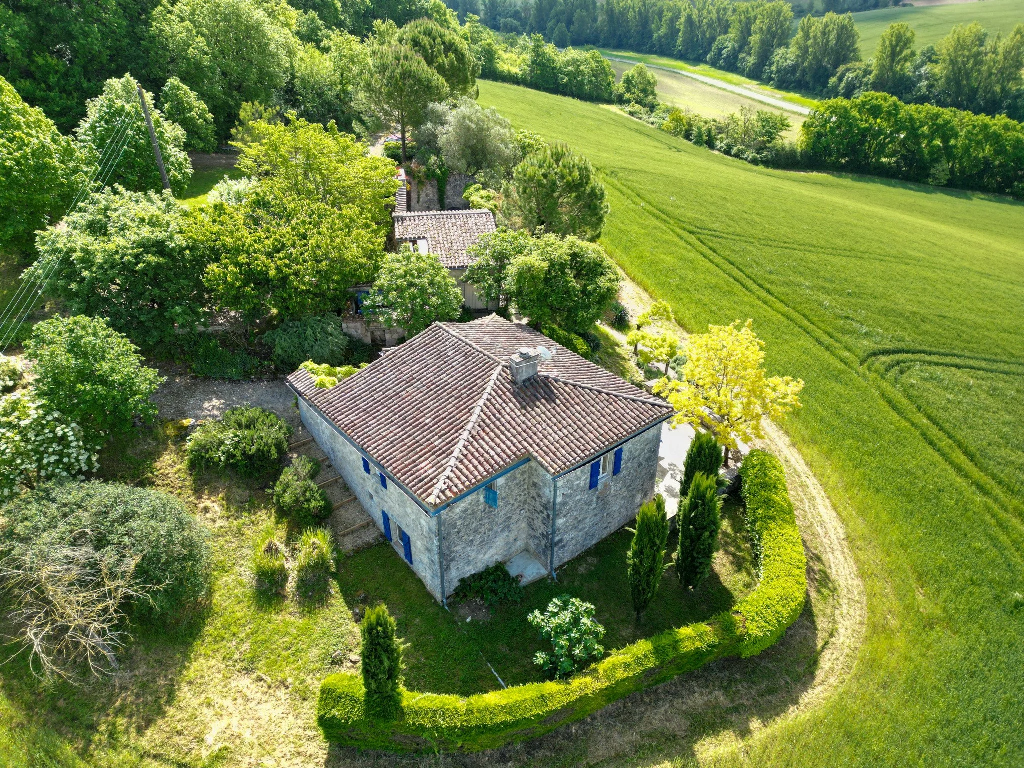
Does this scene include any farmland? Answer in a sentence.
Yes, some farmland is visible.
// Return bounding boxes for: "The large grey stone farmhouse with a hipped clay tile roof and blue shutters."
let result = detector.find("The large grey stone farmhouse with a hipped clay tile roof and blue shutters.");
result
[284,312,682,611]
